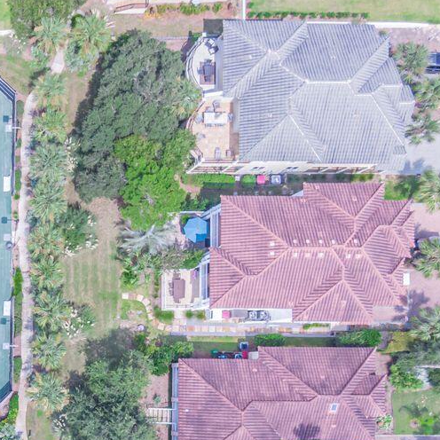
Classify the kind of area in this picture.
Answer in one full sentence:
The area seen from above is a residential area.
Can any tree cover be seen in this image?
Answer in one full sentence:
Yes, there is tree cover in the image.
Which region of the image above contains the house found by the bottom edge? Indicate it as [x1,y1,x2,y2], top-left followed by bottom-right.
[166,346,388,440]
